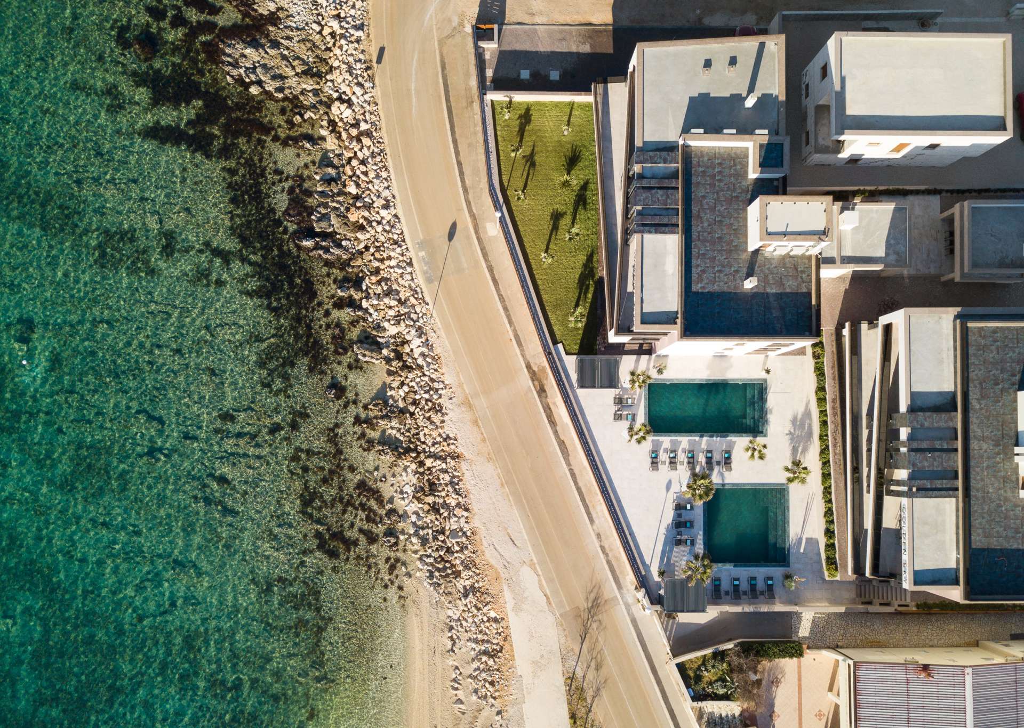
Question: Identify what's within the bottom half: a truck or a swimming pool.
swimming pool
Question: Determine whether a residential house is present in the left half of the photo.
No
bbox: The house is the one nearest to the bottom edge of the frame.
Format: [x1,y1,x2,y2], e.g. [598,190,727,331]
[835,648,1024,728]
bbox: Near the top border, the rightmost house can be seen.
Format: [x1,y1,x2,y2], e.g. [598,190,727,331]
[804,27,1013,166]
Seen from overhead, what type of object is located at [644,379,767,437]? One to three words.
swimming pool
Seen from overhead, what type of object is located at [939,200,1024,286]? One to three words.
house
